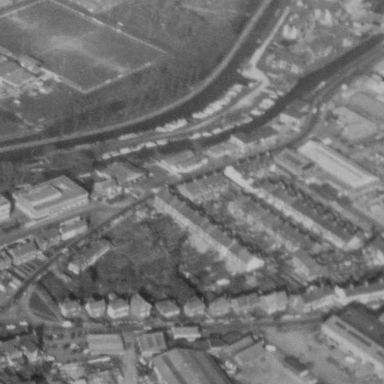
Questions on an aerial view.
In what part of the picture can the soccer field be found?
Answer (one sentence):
Look in the top left portion of the view to spot the soccer field.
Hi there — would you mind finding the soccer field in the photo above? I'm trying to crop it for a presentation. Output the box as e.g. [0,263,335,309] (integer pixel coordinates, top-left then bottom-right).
[0,0,162,91]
